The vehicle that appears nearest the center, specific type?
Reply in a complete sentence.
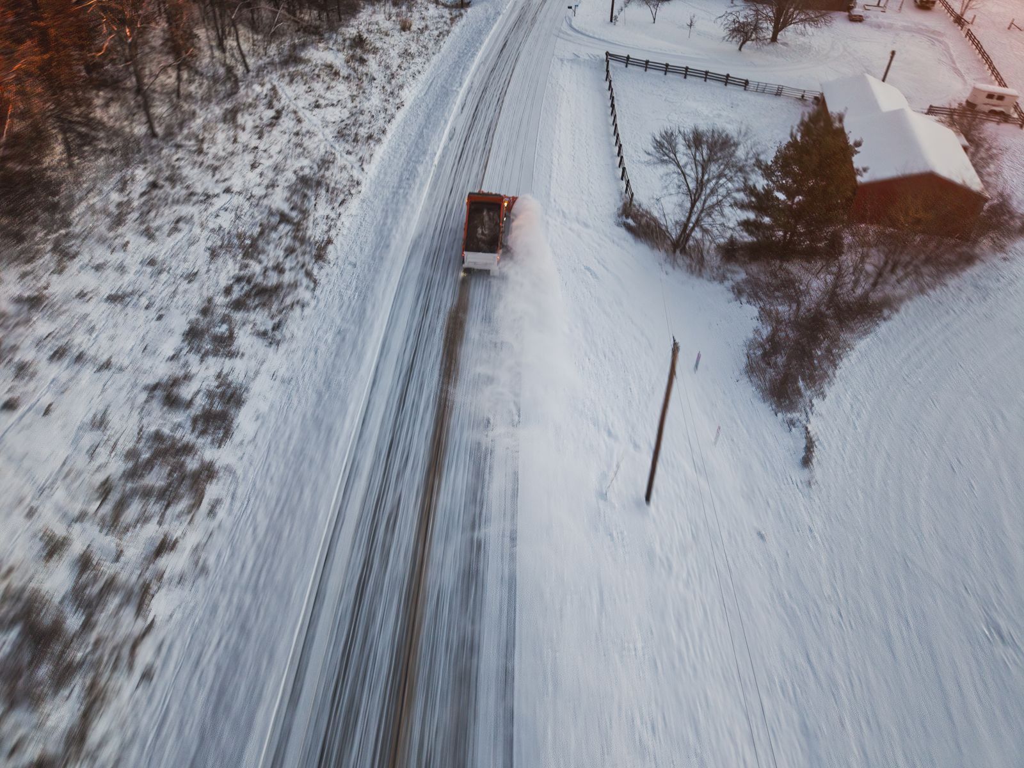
The vehicle that appears nearest the center appears to be a truck.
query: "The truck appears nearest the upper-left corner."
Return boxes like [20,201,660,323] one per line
[460,190,527,286]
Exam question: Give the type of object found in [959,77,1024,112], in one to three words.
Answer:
trailer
